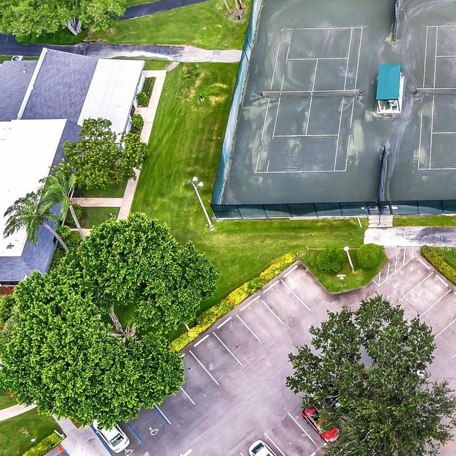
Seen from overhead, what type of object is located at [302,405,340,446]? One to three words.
car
